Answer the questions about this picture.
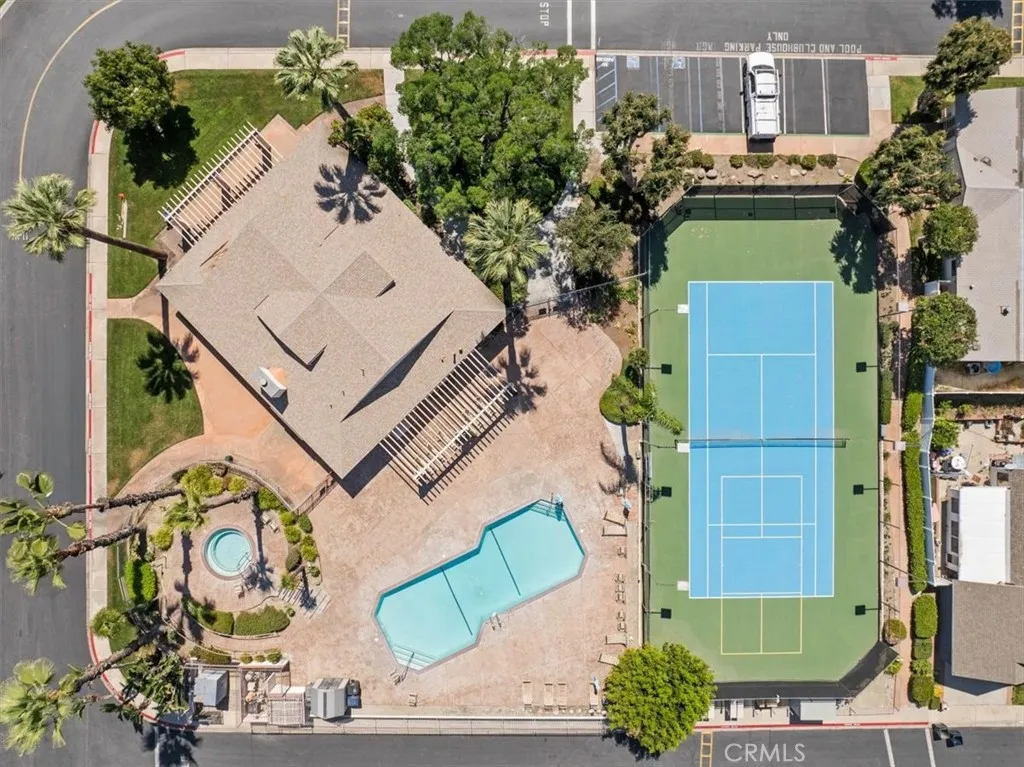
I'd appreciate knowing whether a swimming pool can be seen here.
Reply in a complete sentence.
Yes, a swimming pool is visible in the scene.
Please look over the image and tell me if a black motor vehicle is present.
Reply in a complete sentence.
No, the scene contains no black motor vehicle.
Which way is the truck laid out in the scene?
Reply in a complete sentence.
I'd say the truck is aligned from top to bottom in the picture.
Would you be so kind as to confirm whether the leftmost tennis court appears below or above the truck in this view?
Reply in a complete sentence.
The position of the leftmost tennis court is below the truck.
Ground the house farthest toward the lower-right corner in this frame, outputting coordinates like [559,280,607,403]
[933,573,1024,684]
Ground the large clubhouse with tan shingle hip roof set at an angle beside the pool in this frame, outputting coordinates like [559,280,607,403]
[154,121,509,477]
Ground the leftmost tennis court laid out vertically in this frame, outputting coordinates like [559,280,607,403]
[652,198,877,681]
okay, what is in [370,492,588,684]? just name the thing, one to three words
swimming pool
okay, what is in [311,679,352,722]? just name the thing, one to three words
shed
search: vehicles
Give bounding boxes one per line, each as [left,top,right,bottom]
[742,54,781,140]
